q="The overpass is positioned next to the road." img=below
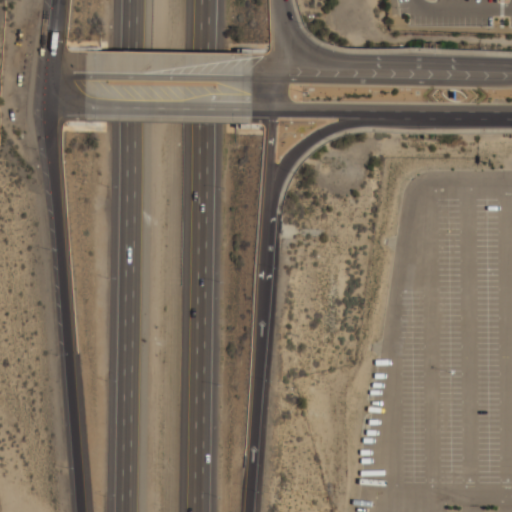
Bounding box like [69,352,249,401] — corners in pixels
[64,42,268,135]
